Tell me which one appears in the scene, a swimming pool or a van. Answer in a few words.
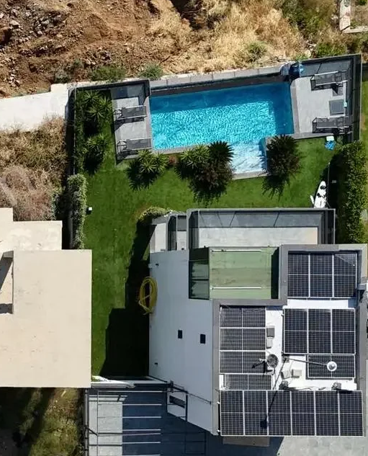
swimming pool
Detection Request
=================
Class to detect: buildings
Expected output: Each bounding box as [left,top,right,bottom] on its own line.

[0,207,91,387]
[143,208,367,446]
